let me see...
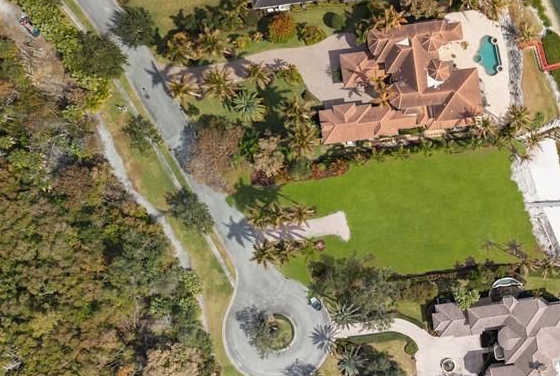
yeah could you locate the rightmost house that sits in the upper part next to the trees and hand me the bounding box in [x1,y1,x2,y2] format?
[319,20,484,144]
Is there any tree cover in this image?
Yes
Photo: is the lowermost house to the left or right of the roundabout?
right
